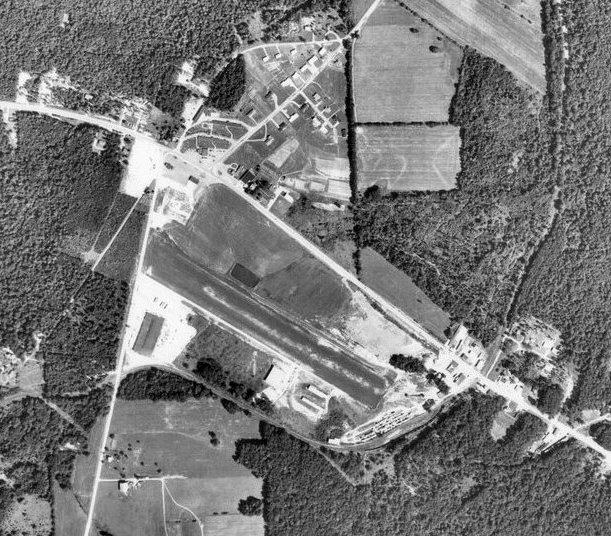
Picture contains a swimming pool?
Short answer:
No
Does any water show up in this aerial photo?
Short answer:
No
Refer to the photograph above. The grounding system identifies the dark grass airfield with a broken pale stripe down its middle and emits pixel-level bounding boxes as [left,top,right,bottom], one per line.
[144,230,386,406]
